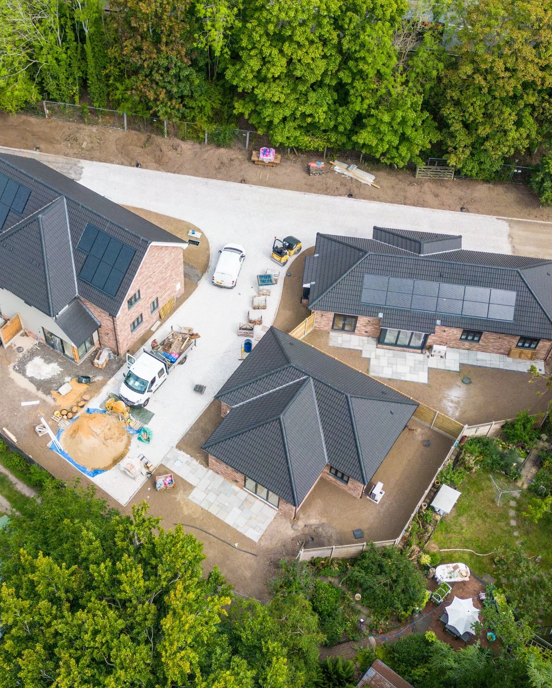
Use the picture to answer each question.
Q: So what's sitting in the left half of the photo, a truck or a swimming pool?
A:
truck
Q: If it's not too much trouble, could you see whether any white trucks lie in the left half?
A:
Yes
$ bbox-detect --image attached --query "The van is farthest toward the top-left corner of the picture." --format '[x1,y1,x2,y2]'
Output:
[211,245,244,291]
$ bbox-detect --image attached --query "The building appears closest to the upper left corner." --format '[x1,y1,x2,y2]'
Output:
[0,154,191,365]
